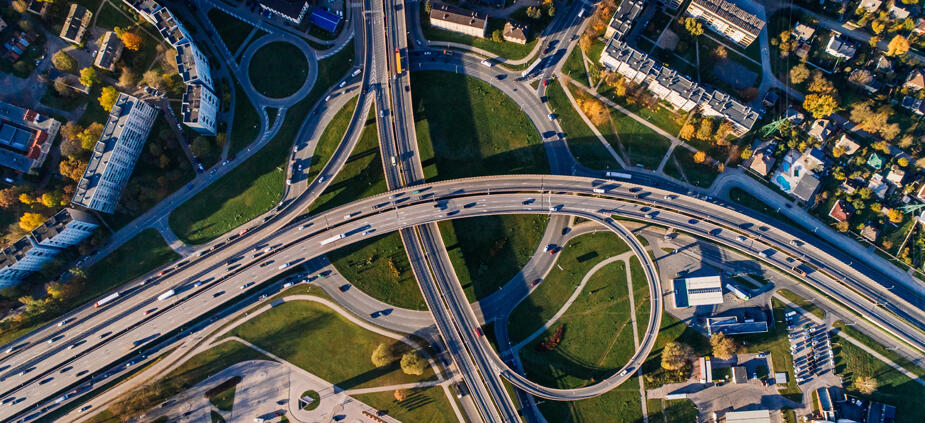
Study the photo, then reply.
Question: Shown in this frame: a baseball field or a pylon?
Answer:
pylon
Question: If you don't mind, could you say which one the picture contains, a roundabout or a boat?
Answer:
roundabout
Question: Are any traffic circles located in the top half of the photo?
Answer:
Yes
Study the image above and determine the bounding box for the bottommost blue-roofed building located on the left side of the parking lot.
[704,315,769,335]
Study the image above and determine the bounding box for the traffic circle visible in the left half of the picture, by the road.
[240,33,317,107]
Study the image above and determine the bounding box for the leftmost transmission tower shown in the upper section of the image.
[754,117,790,146]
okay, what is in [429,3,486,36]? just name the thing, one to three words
house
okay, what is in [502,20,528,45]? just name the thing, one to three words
house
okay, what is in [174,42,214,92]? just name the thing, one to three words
building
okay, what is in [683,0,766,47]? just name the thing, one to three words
building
